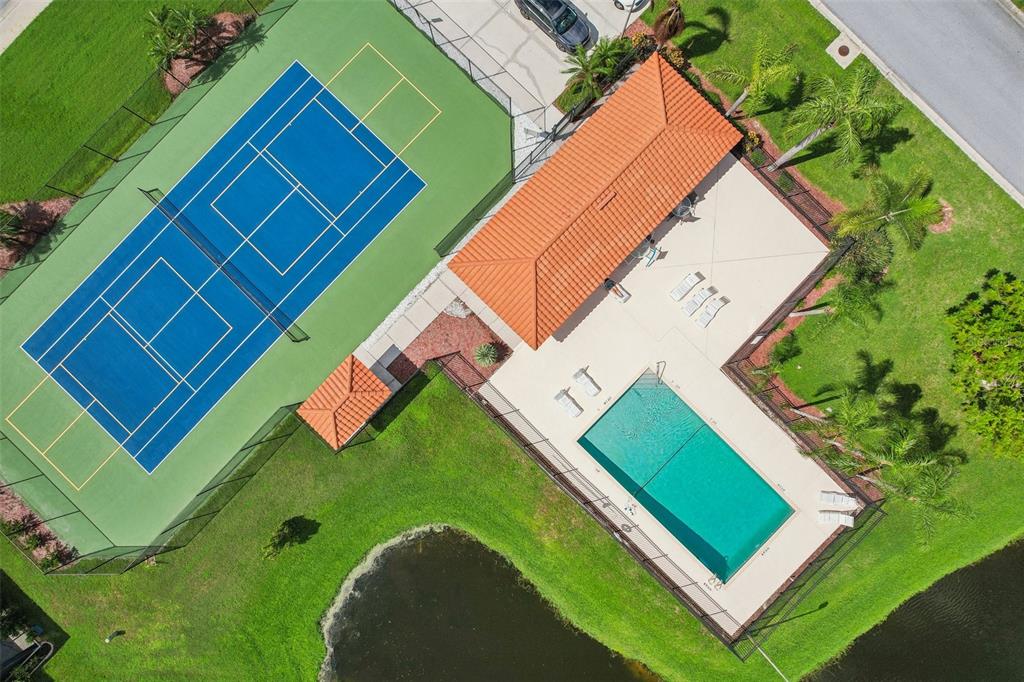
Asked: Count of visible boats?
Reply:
0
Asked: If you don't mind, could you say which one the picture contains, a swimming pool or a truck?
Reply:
swimming pool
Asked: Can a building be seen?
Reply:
Yes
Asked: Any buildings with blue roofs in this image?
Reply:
No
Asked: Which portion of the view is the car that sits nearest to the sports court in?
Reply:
top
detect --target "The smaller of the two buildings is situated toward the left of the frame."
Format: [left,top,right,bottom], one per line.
[295,353,392,451]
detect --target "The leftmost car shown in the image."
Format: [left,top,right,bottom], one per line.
[516,0,589,55]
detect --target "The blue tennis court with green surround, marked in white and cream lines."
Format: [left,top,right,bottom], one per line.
[0,0,511,557]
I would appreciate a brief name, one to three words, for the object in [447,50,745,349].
building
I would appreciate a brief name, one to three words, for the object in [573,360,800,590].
swimming pool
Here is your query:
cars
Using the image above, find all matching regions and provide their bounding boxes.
[516,0,589,55]
[615,0,643,11]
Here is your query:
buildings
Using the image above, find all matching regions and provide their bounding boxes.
[447,50,745,349]
[295,353,392,451]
